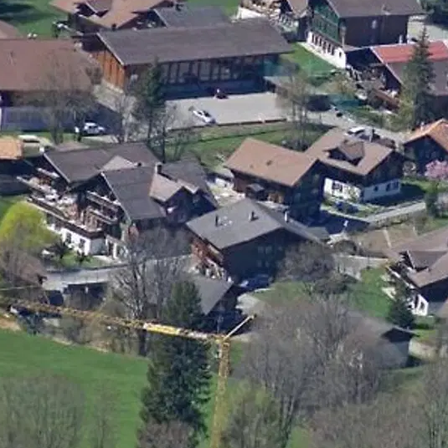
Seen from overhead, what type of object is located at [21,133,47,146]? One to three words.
vehicle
